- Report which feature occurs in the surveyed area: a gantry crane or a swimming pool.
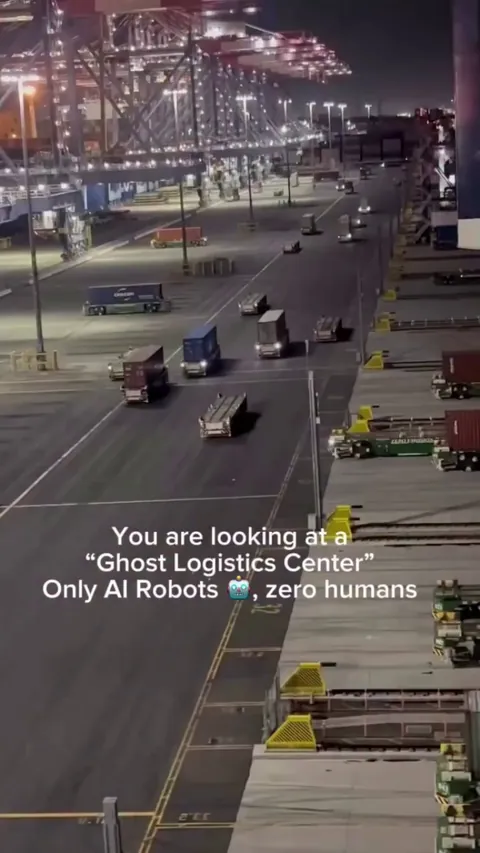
gantry crane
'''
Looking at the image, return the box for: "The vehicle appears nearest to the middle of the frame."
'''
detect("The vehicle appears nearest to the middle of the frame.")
[199,392,245,433]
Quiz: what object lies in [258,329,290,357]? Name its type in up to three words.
vehicle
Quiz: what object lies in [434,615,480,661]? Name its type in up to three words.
vehicle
